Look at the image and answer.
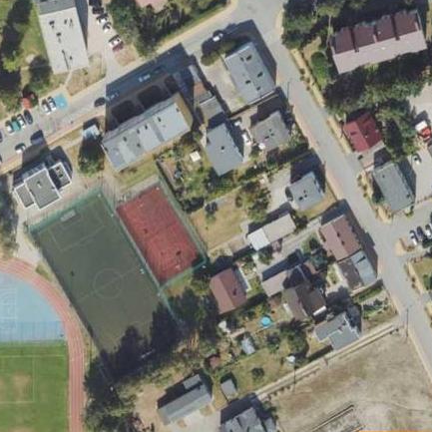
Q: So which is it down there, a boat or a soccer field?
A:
soccer field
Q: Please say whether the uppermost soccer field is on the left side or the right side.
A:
left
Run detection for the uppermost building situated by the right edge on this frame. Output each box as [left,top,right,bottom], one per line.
[331,6,427,73]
